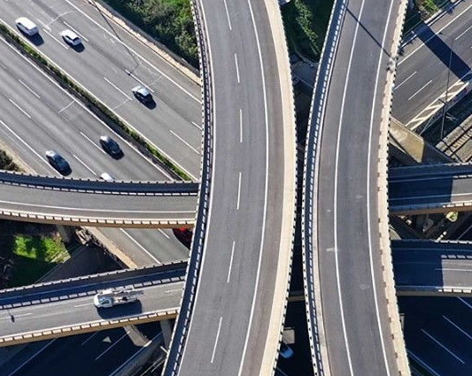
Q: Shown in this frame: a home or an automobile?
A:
automobile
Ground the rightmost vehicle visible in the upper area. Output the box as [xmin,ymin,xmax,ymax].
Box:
[132,87,155,105]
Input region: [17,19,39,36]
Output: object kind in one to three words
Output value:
car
